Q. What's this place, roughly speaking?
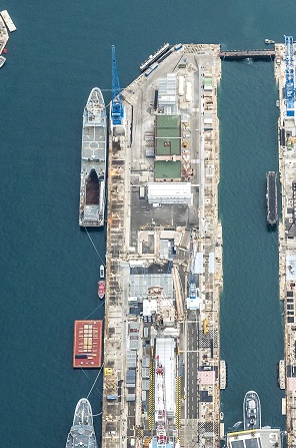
port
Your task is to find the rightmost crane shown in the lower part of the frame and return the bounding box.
[184,232,201,317]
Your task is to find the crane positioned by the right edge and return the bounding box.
[284,39,296,119]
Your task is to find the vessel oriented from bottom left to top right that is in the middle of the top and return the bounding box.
[141,45,169,71]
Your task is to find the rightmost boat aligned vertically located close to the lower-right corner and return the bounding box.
[242,391,261,431]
